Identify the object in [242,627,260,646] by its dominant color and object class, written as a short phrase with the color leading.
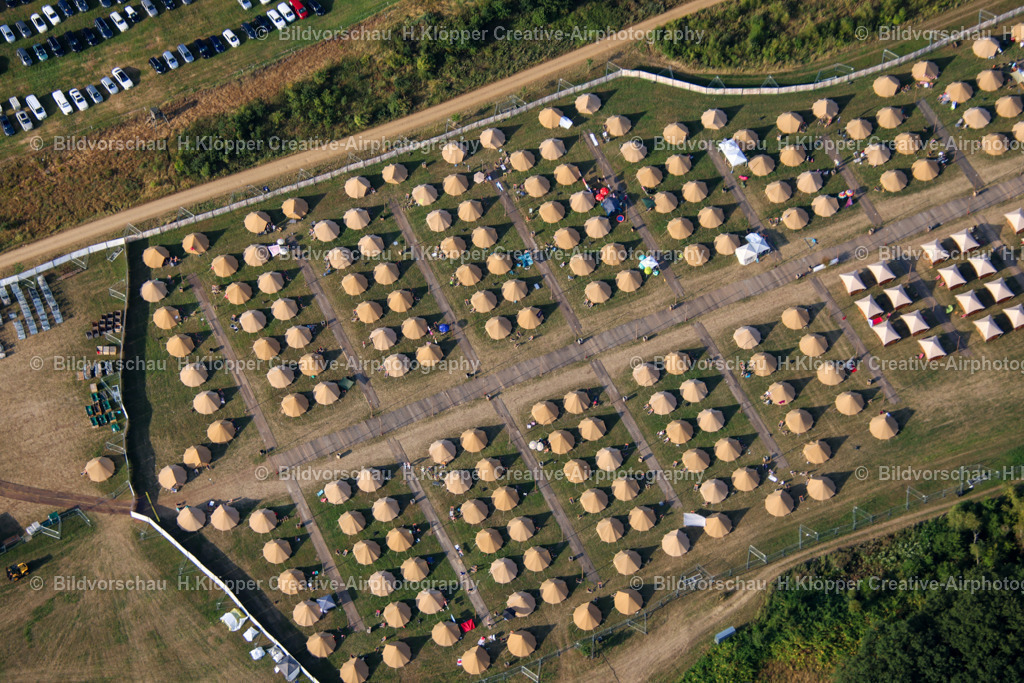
white gazebo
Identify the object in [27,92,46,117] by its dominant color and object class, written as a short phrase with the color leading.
white vehicle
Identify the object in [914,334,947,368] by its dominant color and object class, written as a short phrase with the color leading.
white tent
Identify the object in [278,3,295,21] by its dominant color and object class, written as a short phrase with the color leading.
white car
